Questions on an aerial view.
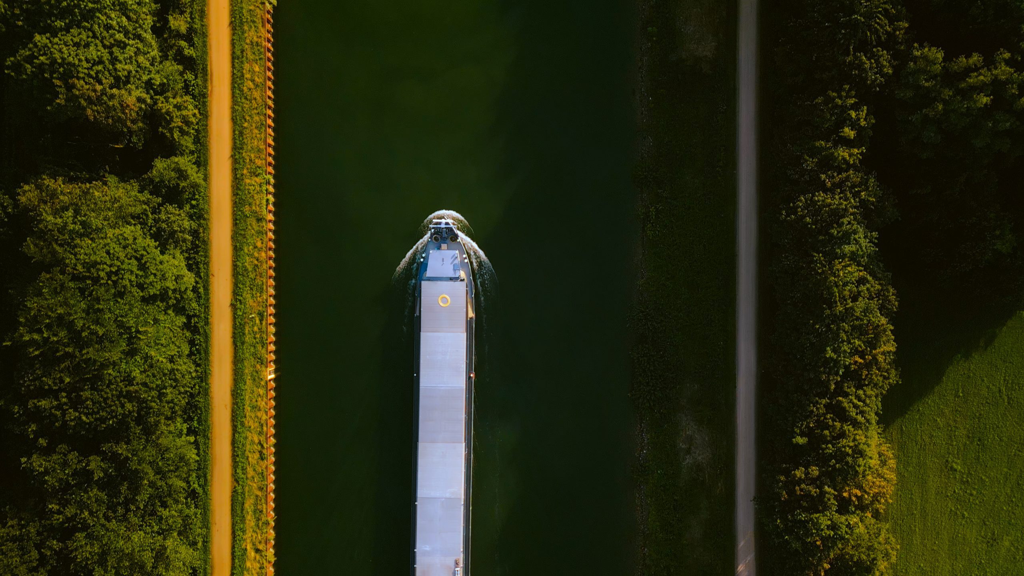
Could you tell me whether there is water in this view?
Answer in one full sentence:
Yes, the picture does contain water.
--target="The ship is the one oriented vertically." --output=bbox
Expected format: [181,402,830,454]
[410,216,475,576]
